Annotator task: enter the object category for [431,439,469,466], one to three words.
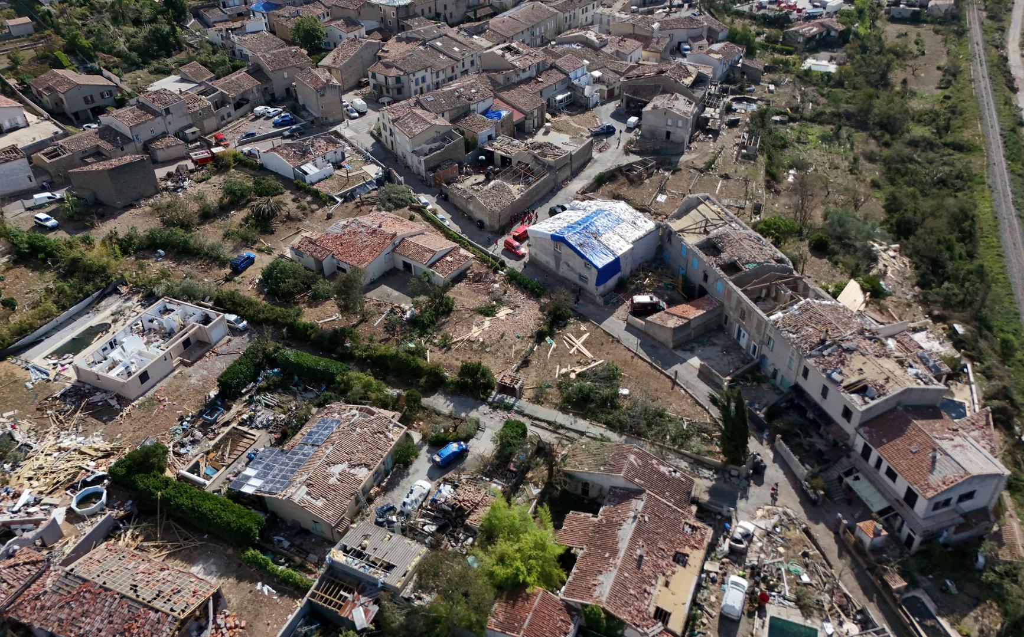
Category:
car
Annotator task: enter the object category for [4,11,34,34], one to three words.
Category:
shed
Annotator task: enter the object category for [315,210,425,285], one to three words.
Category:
house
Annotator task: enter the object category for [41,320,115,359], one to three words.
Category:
swimming pool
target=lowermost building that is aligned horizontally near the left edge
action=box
[6,540,214,637]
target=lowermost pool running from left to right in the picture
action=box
[764,612,822,637]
